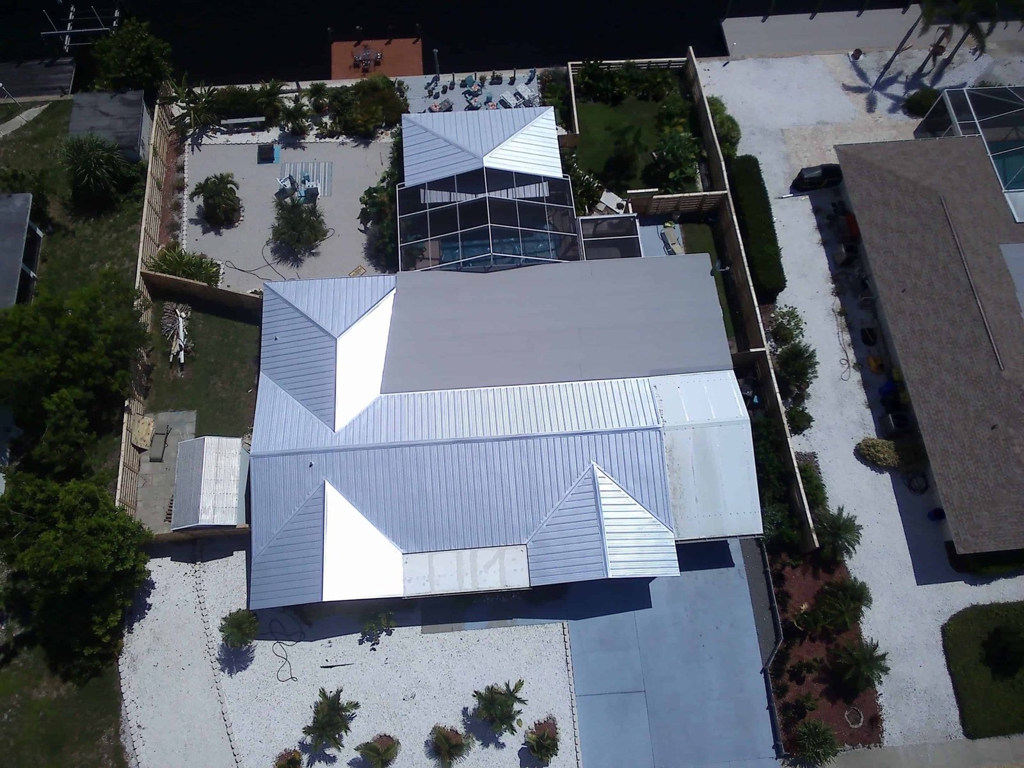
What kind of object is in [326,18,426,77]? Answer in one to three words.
pier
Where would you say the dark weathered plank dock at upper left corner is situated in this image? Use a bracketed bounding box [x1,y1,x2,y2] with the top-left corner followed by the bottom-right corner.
[0,40,77,93]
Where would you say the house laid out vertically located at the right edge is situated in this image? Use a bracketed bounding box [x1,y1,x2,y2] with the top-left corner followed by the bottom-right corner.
[837,136,1024,556]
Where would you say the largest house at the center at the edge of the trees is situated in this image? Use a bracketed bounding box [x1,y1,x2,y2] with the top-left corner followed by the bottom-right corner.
[246,252,765,610]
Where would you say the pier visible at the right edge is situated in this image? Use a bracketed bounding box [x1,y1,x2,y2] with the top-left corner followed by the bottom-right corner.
[716,0,1024,56]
